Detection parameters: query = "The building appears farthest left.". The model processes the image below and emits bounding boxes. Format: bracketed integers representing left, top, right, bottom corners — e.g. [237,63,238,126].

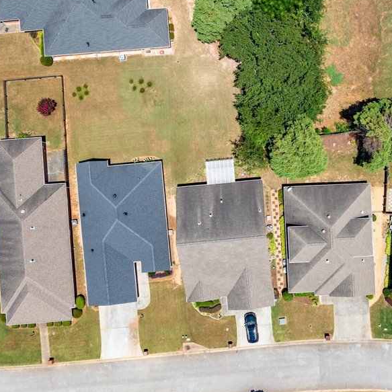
[0,137,78,326]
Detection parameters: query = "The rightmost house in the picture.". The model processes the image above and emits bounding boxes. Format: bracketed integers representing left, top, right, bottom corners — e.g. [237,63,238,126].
[283,183,375,296]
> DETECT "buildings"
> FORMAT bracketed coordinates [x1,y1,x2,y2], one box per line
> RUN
[0,137,78,326]
[283,183,375,296]
[176,180,274,310]
[0,0,170,58]
[76,160,171,306]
